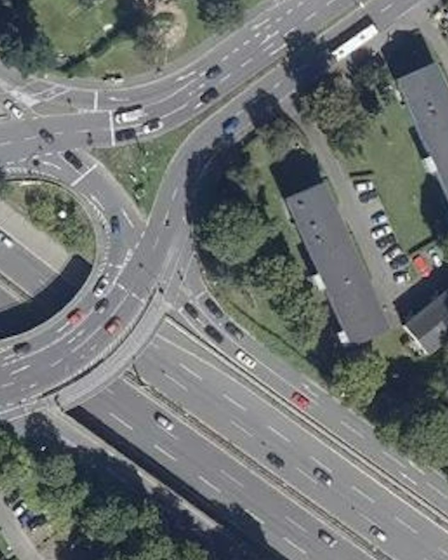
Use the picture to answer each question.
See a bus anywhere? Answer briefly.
Yes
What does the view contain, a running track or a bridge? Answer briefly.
bridge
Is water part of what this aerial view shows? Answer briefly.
No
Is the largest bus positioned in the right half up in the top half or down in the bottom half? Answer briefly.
top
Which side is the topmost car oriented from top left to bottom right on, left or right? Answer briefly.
left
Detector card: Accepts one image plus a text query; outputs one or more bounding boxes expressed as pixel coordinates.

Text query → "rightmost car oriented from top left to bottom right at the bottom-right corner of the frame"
[367,524,388,542]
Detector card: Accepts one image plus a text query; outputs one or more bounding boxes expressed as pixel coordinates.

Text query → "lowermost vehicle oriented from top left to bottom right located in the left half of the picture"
[153,413,174,431]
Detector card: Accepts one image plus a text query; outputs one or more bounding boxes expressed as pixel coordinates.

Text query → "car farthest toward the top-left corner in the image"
[4,100,25,120]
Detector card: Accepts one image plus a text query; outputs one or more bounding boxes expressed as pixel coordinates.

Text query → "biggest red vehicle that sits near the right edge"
[412,254,431,279]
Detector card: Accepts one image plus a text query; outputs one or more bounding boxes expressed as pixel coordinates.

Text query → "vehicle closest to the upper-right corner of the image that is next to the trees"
[326,24,379,57]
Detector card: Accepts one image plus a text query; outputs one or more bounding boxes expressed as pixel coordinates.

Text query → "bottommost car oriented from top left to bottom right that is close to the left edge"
[0,231,15,249]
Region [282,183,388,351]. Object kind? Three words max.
building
